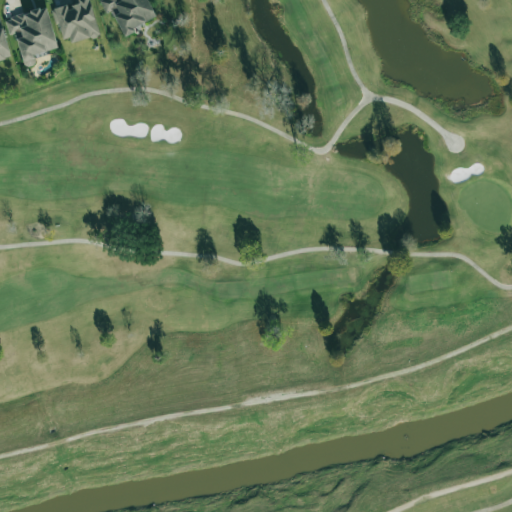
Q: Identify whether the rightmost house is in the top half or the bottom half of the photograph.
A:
top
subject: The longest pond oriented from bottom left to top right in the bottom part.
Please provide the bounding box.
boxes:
[331,262,396,354]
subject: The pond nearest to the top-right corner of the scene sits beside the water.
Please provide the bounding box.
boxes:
[361,0,491,104]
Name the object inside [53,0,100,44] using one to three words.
house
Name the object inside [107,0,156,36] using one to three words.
house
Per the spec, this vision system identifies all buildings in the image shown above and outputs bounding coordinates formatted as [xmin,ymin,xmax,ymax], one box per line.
[0,26,12,63]
[6,5,58,68]
[107,0,156,36]
[53,0,100,44]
